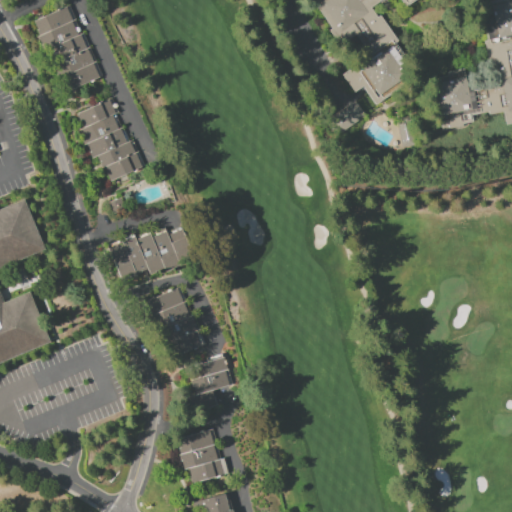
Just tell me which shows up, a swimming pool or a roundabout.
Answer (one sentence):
There is a swimming pool in the scene.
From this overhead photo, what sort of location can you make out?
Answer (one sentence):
This looks like a golf course.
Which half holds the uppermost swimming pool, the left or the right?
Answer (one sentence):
The uppermost swimming pool appears in the right half of the scene.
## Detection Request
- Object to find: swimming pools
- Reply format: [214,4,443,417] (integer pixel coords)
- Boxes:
[366,118,394,146]
[136,186,163,204]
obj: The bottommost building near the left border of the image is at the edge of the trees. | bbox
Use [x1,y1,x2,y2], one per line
[0,292,50,364]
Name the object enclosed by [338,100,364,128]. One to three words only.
house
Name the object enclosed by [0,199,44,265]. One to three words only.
building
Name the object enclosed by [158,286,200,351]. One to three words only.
house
